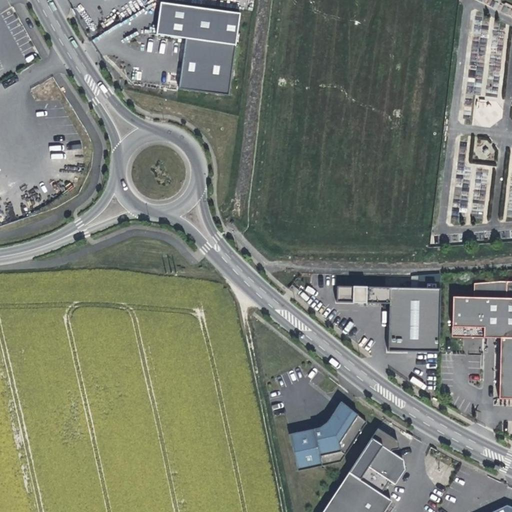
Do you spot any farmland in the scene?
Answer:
Yes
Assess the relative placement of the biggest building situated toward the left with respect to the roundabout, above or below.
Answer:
above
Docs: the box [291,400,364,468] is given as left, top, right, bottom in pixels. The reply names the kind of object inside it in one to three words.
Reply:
building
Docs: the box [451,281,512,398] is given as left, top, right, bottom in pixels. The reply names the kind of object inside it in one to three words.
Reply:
building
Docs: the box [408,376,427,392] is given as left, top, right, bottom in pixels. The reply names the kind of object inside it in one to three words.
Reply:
vehicle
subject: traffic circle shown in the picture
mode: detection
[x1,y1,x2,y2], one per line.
[86,96,215,246]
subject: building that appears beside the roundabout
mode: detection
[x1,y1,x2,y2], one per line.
[158,2,240,95]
